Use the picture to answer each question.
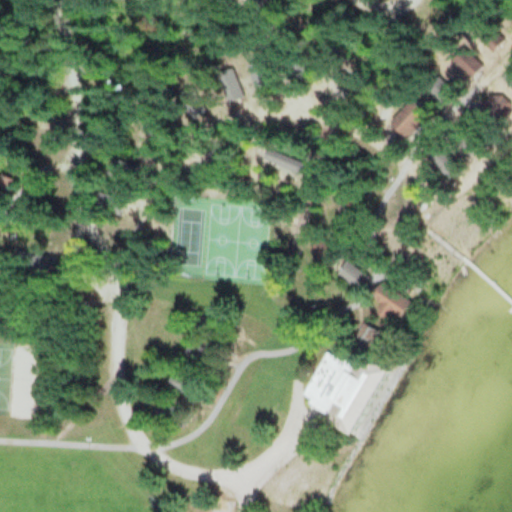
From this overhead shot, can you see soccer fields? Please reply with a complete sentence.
No, there appears to be no soccer field in this shot.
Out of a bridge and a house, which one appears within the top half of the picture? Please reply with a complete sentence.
Looking within the top half of the picture, you will find a house.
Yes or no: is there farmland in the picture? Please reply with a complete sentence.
No, the scene doesn't show any farmland.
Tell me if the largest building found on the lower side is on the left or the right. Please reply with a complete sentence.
The largest building found on the lower side sits on the right side.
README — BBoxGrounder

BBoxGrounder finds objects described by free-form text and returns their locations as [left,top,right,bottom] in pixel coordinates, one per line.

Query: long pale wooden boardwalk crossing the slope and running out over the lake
[428,229,512,304]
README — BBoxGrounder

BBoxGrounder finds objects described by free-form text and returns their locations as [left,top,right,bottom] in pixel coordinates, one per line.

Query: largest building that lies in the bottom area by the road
[304,352,388,435]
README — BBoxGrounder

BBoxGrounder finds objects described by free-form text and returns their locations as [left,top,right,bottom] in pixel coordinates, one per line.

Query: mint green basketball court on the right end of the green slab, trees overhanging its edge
[236,208,270,281]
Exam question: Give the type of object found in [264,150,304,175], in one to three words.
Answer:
building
